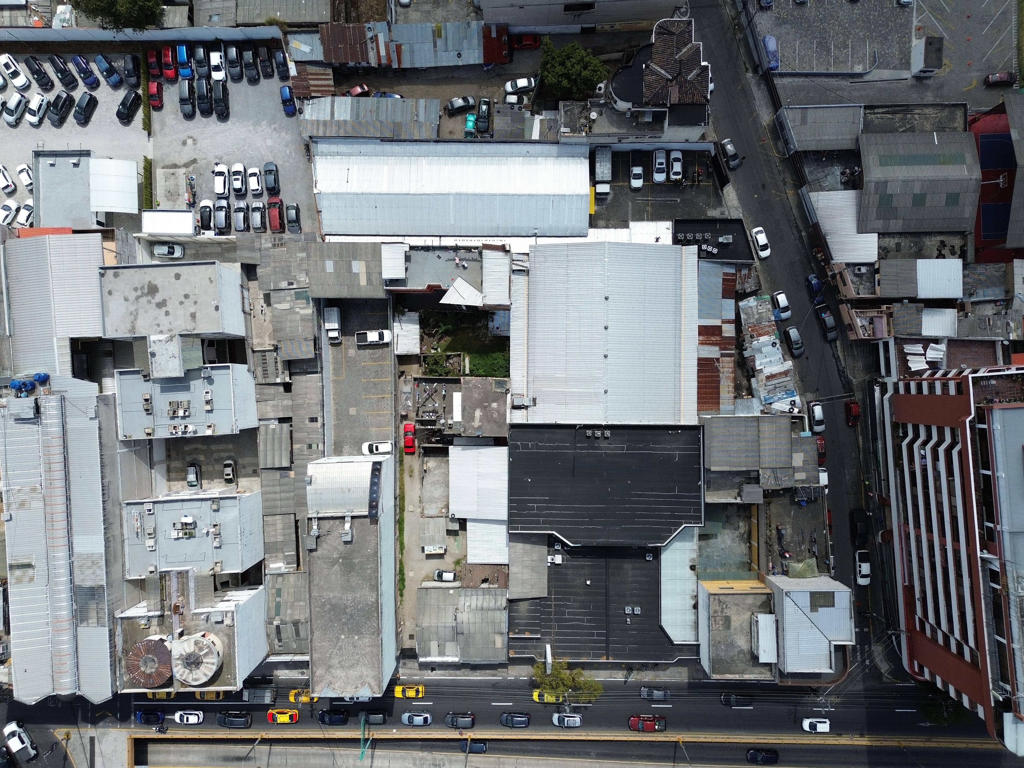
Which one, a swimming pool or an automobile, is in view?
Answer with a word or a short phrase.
automobile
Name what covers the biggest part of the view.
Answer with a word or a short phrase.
buildings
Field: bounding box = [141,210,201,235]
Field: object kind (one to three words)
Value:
building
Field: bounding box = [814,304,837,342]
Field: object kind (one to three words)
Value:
truck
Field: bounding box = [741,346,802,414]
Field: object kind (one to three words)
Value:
shed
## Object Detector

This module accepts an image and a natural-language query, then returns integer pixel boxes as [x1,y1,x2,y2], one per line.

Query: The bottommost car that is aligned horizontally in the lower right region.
[747,748,779,764]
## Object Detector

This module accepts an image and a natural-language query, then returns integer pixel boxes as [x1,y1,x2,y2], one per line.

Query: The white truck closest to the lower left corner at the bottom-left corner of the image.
[7,724,34,761]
